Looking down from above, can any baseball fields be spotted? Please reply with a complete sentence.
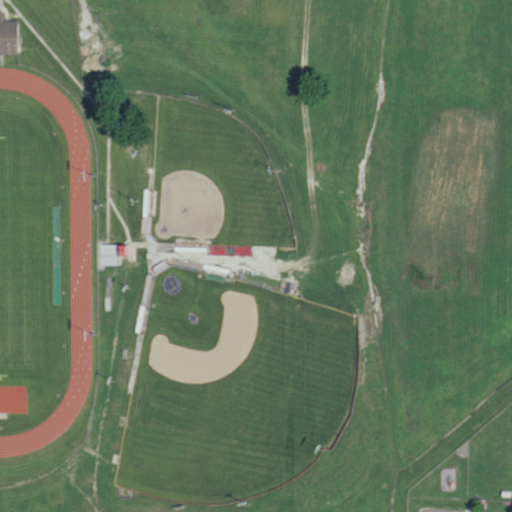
Yes, the image includes a baseball field.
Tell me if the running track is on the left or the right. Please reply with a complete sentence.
The running track appears in the left half of the scene.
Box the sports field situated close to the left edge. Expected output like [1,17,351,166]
[0,90,70,436]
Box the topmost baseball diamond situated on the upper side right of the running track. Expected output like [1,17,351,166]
[150,95,298,250]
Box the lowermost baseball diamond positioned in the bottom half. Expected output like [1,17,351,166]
[115,266,359,506]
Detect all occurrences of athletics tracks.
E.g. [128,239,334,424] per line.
[0,70,91,458]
